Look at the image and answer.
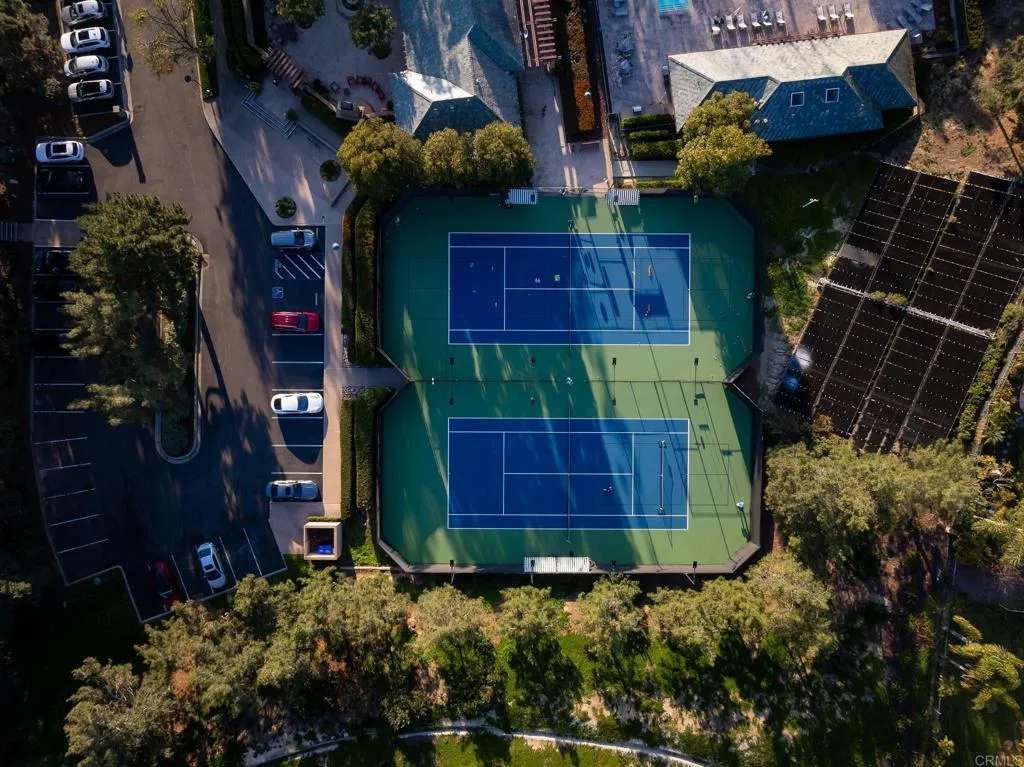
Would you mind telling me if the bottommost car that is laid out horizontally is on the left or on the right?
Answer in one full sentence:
The bottommost car that is laid out horizontally is on the left side of the image.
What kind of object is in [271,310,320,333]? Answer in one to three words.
car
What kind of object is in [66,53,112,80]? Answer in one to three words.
car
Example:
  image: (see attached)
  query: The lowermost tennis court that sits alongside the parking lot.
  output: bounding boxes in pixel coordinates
[380,382,752,564]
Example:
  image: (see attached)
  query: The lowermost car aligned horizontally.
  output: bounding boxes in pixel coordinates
[268,479,318,501]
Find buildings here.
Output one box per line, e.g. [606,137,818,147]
[668,28,918,140]
[390,0,524,146]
